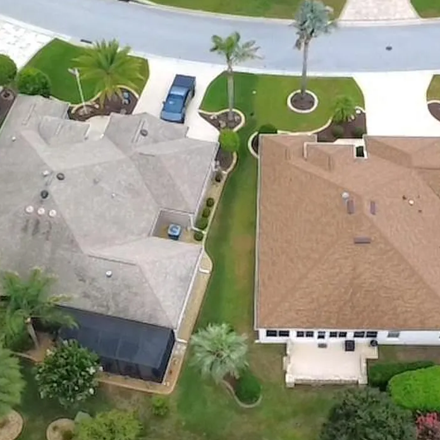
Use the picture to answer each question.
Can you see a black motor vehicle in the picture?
No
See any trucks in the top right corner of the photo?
No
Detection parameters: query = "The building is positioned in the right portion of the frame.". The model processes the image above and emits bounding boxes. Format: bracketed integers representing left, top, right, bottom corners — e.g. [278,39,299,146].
[253,135,440,343]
